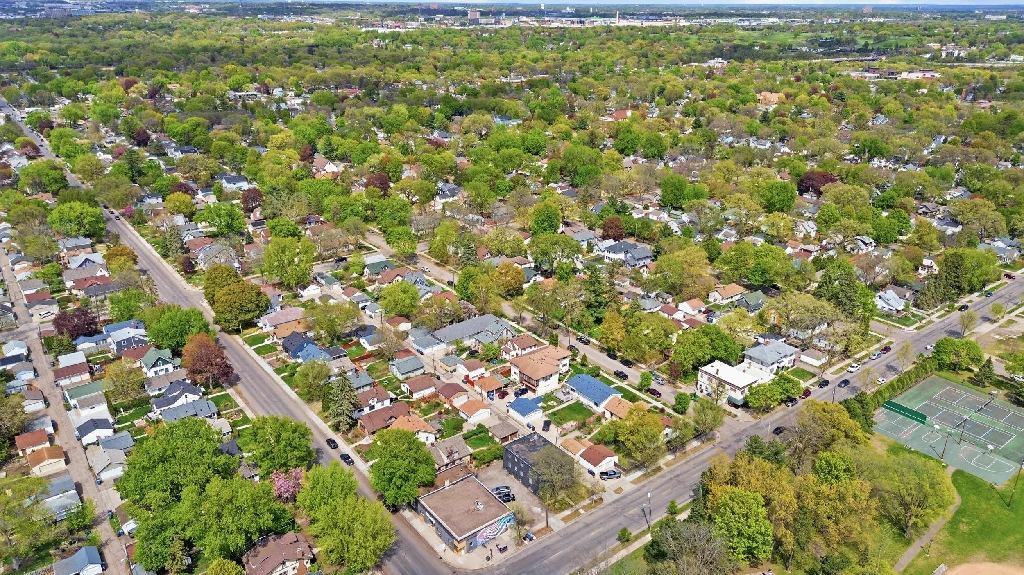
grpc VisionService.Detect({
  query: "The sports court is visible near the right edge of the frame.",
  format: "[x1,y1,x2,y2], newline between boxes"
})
[868,373,1024,487]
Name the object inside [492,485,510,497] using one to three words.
vehicle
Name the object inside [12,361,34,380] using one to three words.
building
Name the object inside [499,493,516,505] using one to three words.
vehicle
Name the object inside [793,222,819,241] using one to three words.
house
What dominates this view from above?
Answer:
trees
